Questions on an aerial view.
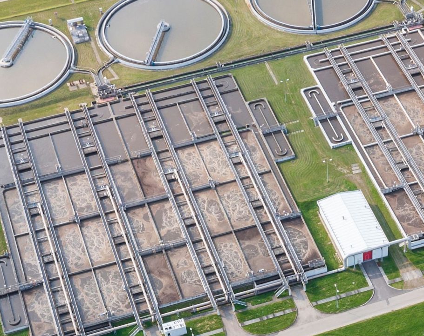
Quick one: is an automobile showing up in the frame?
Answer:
No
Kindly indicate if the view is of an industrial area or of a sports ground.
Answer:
industrial area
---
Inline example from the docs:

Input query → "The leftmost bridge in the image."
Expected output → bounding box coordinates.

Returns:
[0,15,36,64]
